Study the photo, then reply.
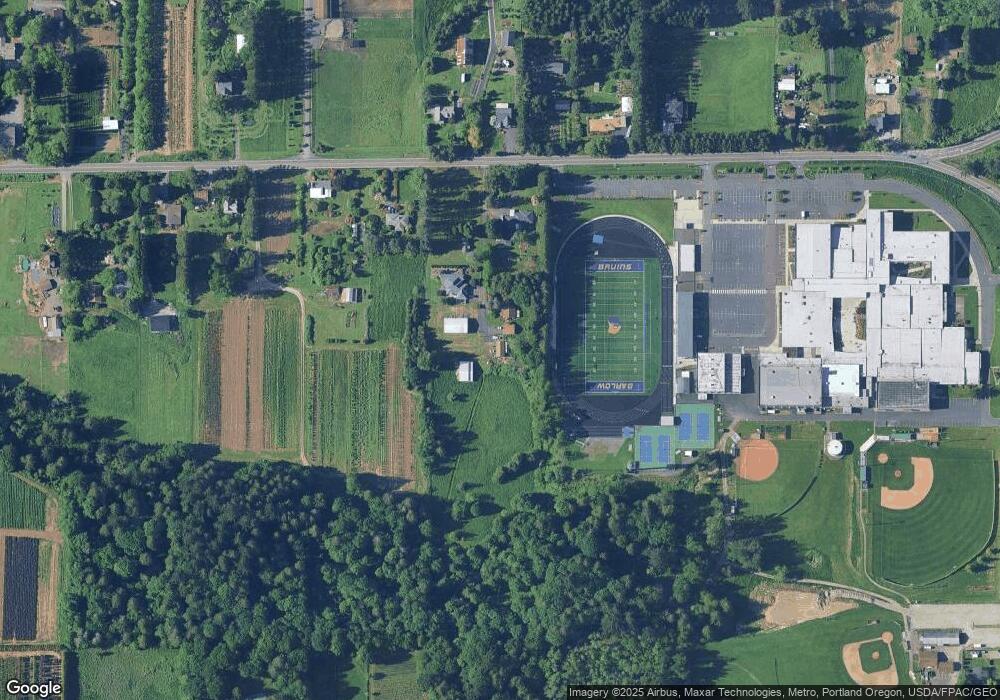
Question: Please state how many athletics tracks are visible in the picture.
one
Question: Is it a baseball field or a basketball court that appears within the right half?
baseball field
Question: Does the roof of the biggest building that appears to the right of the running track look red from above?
No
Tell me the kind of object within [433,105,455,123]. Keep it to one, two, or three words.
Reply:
house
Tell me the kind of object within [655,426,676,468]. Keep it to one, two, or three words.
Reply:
tennis court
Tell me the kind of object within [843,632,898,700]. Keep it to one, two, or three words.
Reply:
baseball field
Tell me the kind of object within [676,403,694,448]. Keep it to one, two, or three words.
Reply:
tennis court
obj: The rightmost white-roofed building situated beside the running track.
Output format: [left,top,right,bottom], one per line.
[760,209,980,414]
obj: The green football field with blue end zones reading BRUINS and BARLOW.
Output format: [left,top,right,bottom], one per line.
[566,258,661,394]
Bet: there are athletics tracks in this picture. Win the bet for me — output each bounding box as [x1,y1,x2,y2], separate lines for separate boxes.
[553,214,673,437]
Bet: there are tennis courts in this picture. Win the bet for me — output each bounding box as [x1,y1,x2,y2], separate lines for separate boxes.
[676,403,694,448]
[694,403,714,448]
[635,426,655,468]
[655,426,676,468]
